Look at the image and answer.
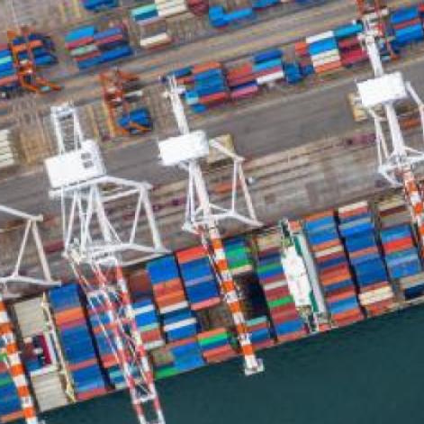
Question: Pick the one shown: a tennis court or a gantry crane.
gantry crane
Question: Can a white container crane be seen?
Yes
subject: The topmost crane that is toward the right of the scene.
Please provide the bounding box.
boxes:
[358,0,409,66]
